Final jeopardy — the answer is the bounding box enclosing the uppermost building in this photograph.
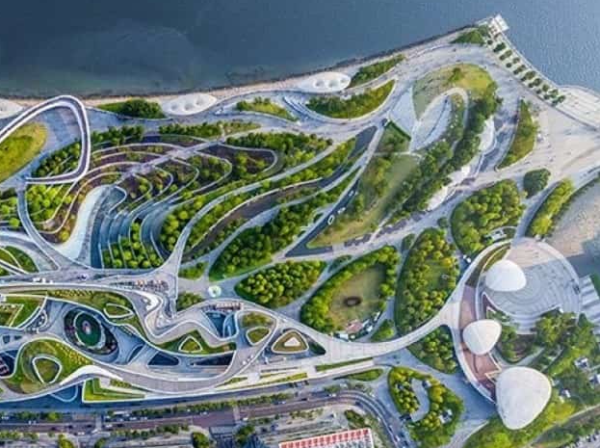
[298,71,350,92]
